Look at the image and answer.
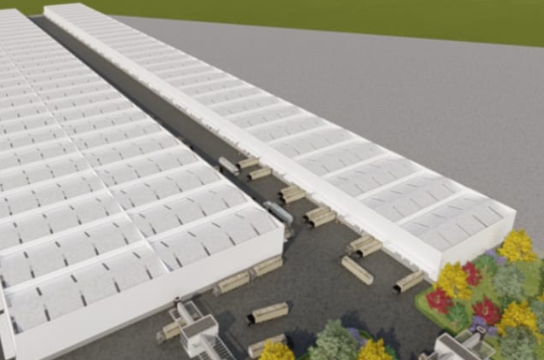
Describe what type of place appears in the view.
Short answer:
industrial area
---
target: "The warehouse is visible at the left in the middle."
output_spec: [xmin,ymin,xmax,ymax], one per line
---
[0,10,284,360]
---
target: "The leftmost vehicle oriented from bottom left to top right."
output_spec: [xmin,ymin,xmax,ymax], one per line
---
[156,317,188,346]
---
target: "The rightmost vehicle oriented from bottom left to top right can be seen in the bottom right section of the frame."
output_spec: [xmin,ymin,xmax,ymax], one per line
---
[392,269,425,297]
